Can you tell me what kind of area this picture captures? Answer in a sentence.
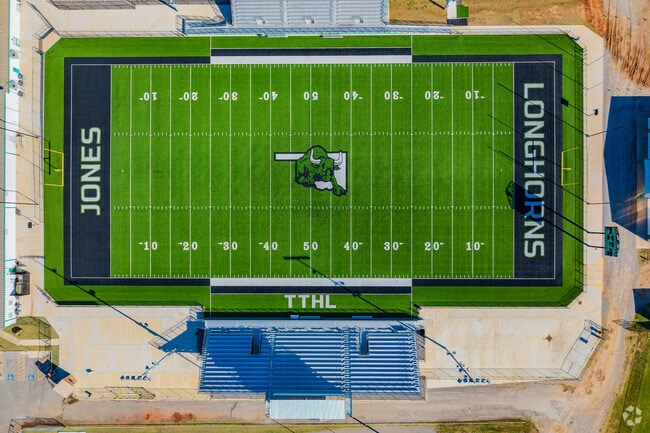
It's a sports ground.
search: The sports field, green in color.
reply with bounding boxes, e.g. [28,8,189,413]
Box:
[44,34,584,318]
